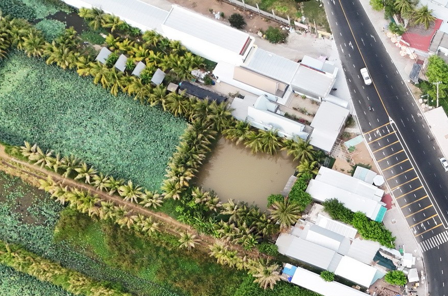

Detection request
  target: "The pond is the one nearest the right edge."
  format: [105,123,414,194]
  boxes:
[194,137,298,210]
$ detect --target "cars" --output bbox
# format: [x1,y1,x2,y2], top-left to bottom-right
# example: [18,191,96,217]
[439,155,448,172]
[360,65,372,83]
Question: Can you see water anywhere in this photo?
Yes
